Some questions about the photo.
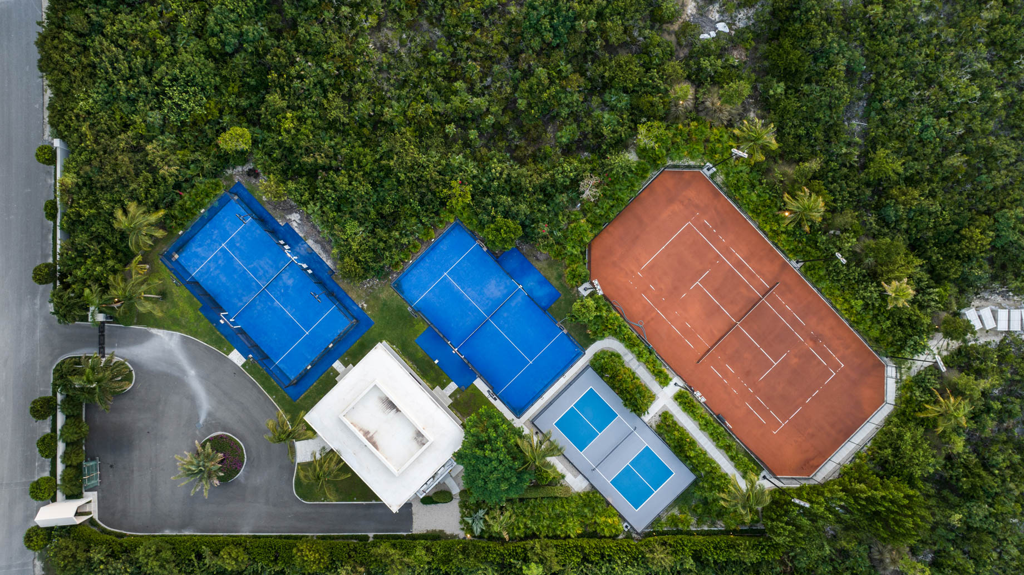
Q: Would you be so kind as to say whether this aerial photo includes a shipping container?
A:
No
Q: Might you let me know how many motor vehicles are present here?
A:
none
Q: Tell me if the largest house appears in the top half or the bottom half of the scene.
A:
bottom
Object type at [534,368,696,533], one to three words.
sports court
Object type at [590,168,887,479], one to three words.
tennis court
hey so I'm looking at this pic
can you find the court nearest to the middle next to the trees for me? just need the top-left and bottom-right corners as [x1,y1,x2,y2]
[393,221,582,413]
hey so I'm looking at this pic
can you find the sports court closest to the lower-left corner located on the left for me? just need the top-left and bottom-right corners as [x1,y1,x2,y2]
[160,182,374,401]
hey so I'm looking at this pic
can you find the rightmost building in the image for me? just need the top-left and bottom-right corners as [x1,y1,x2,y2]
[303,339,467,514]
